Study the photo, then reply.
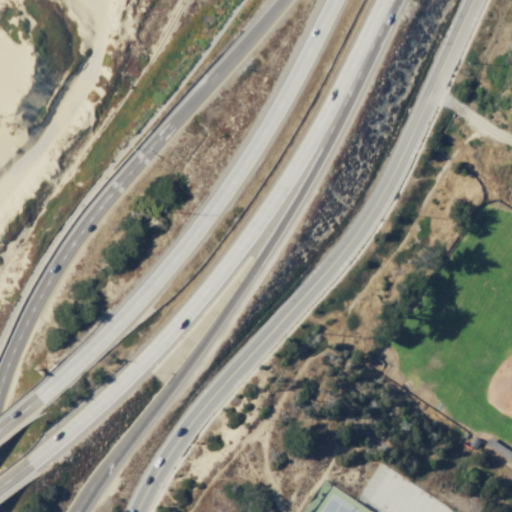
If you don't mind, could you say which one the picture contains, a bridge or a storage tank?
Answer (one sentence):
Visible in the photo is a bridge.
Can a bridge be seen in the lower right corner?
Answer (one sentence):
No, looking in the lower right corner, there is no bridge.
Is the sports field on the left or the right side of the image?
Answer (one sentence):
The sports field appears in the right half of the scene.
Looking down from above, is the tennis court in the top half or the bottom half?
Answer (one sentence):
You can find the tennis court in the bottom half.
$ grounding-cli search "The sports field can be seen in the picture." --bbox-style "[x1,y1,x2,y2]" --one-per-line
[392,204,512,444]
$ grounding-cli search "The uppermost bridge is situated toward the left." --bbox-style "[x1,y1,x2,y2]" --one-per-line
[0,389,48,446]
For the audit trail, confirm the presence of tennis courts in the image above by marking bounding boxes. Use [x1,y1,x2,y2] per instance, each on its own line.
[316,486,372,512]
